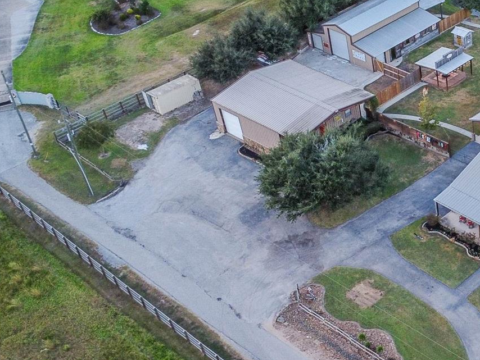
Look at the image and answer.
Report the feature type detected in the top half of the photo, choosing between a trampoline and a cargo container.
cargo container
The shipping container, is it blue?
No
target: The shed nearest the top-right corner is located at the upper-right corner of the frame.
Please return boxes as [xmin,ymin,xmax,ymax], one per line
[452,26,473,48]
